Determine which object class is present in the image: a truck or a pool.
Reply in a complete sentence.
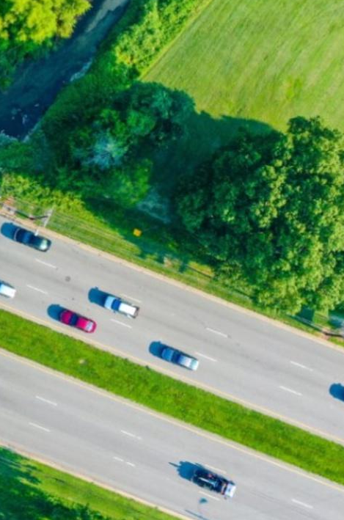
This aerial view contains a truck.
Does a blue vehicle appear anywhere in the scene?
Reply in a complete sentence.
Yes, the frame does contain a blue vehicle.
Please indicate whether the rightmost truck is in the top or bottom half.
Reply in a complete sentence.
The bottom half of the photo is where the rightmost truck is.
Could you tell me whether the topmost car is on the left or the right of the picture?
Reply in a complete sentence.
The topmost car sits on the left side.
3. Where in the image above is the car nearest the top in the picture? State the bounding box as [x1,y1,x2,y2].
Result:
[10,226,50,251]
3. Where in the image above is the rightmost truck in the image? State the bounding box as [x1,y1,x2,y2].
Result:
[186,467,240,499]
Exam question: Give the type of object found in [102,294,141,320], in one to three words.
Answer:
car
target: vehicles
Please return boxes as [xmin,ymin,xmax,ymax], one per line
[158,346,198,371]
[10,226,50,251]
[102,294,141,320]
[57,308,96,333]
[186,467,240,499]
[0,281,18,300]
